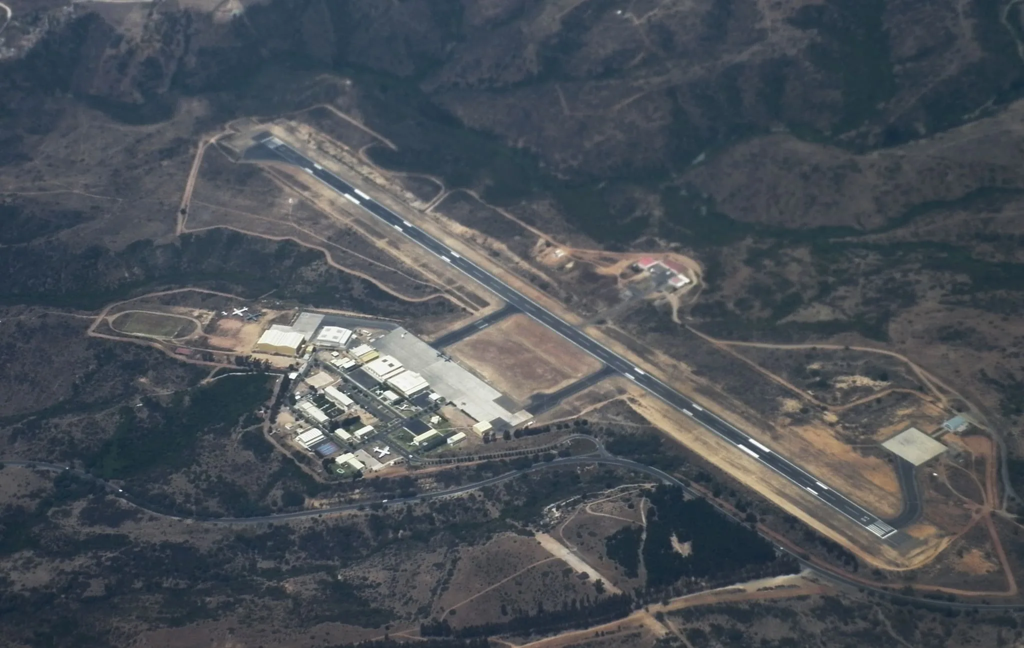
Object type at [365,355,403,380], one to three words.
hangar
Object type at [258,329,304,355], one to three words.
hangar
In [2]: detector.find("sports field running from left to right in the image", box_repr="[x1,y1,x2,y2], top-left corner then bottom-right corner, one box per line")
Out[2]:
[122,312,197,338]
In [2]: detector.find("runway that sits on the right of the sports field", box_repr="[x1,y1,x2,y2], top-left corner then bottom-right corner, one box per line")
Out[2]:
[261,137,896,538]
